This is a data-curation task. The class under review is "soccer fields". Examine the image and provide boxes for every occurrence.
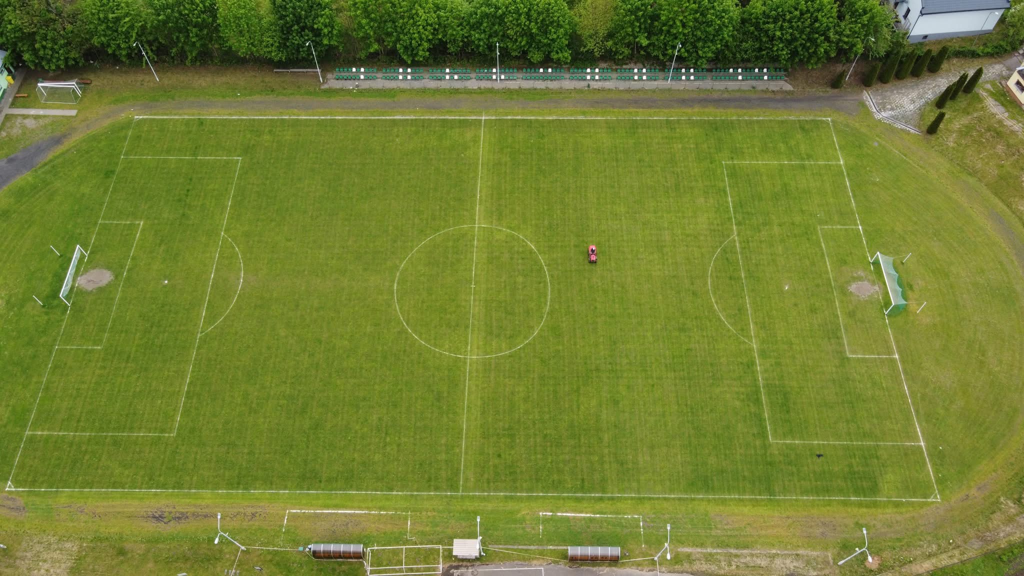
[6,111,939,500]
